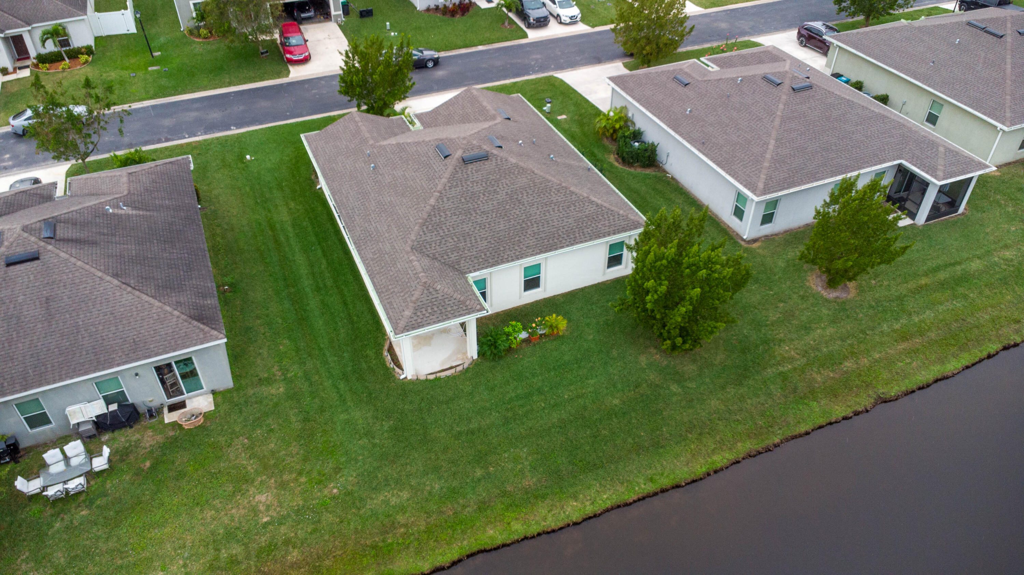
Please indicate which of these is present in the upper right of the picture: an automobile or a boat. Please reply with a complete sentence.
The one visible in the upper right of the picture is an automobile.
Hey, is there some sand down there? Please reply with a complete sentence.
No, there is no sand in the image.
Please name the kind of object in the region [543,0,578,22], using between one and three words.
car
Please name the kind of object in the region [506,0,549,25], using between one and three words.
truck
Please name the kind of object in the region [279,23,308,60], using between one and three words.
car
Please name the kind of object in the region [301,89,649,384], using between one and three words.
house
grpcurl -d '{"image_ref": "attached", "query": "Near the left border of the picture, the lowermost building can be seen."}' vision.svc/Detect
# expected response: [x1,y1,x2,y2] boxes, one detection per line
[0,154,233,448]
